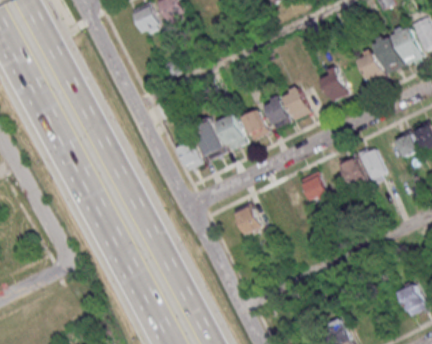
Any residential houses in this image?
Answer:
Yes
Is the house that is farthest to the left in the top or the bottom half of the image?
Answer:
top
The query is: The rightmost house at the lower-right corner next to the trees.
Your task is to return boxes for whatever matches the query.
[397,284,430,320]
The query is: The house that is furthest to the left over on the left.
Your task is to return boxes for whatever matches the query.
[134,2,164,36]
